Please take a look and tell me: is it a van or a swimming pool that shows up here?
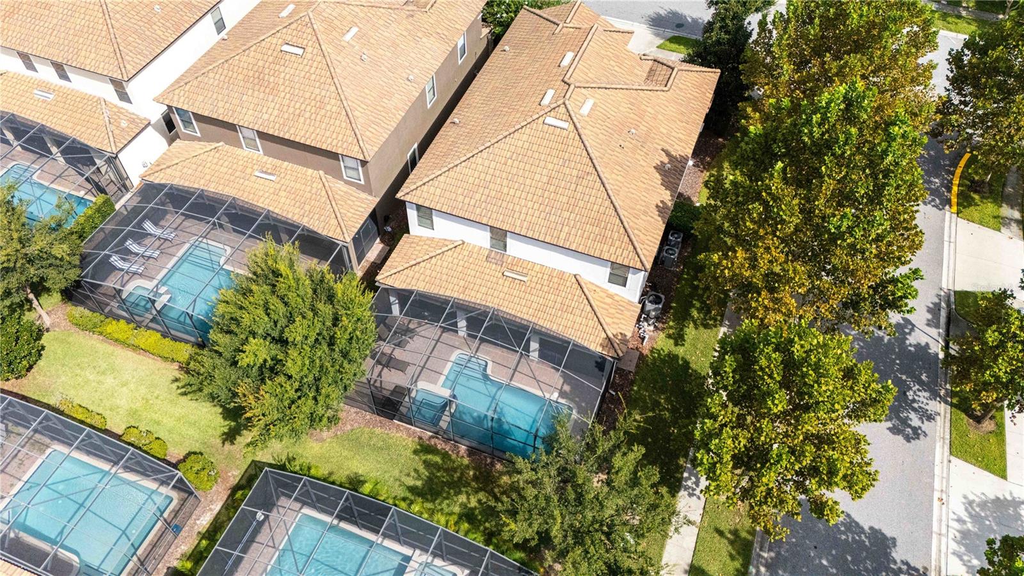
swimming pool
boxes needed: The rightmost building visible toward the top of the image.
[376,0,720,392]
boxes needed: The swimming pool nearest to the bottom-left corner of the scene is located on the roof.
[0,441,179,576]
